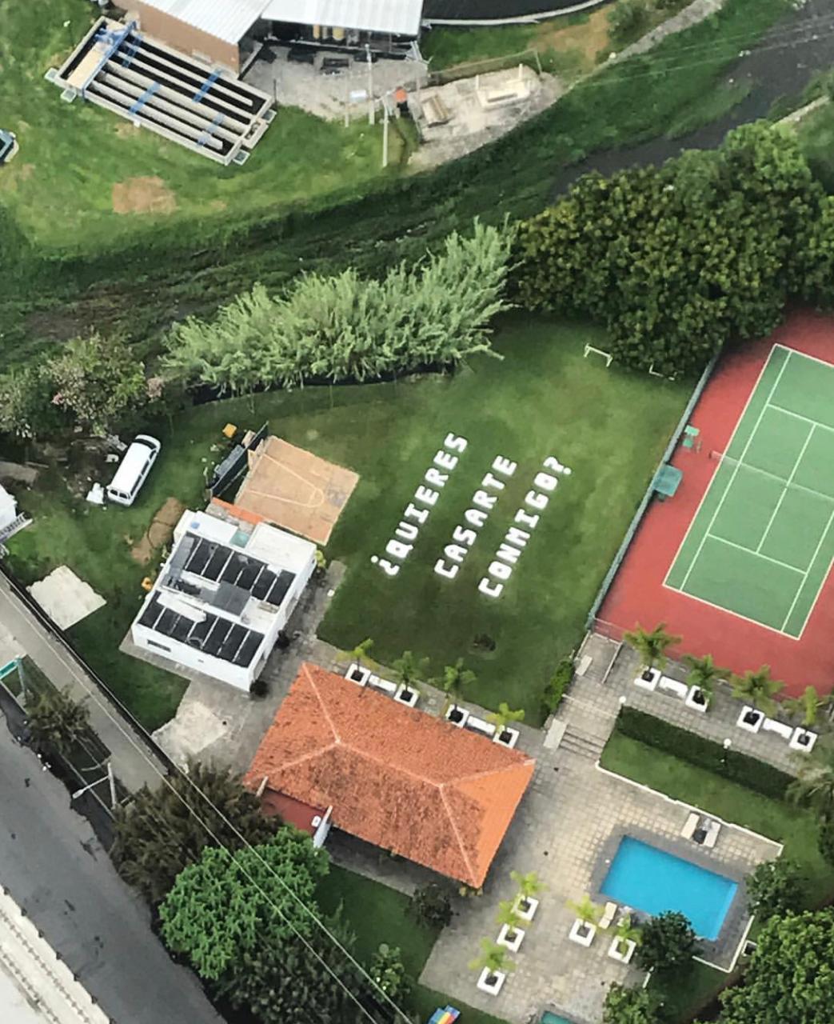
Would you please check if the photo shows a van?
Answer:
Yes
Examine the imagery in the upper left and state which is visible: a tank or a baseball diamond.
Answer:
tank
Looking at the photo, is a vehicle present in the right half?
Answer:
No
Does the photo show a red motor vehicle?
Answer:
No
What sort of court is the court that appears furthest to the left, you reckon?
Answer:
basketball court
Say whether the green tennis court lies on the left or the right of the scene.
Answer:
right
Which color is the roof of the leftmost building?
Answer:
white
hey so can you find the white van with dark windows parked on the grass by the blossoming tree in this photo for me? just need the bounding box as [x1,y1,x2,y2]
[106,443,155,511]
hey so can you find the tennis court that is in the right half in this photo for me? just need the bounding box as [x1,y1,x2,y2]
[593,257,834,730]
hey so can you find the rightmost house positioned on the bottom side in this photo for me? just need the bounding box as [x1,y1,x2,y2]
[241,660,537,889]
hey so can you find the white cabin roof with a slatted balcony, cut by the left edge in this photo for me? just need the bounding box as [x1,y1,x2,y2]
[0,485,33,556]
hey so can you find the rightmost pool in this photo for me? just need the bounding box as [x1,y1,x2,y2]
[587,821,751,954]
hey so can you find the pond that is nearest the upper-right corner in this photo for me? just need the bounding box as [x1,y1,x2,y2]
[425,0,611,25]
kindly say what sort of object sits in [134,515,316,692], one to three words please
house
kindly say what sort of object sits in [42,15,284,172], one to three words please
storage tank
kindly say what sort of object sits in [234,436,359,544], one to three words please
basketball court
